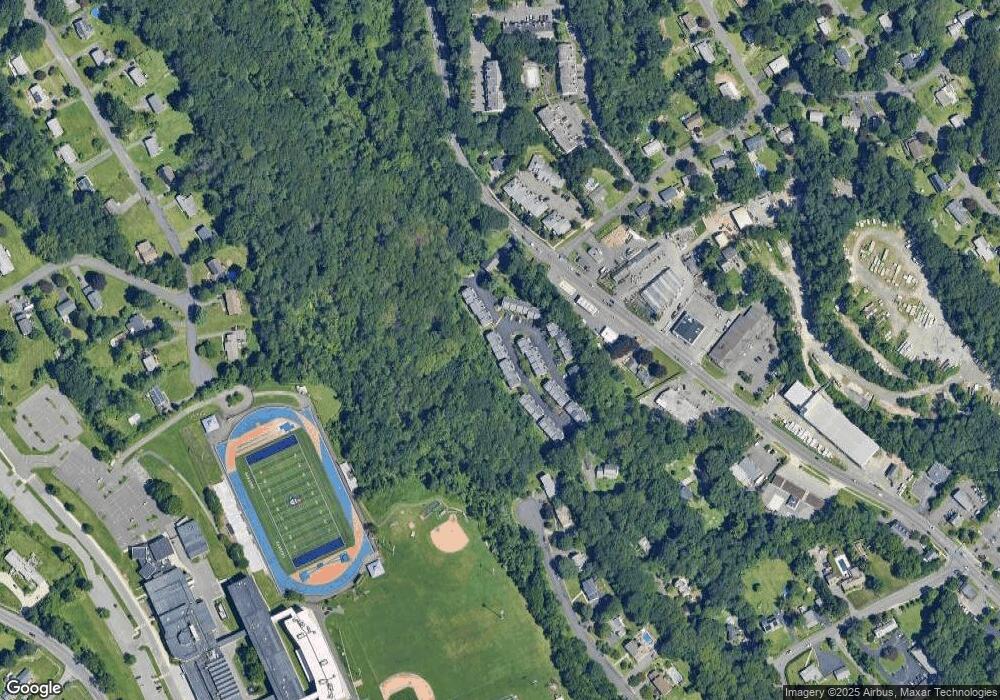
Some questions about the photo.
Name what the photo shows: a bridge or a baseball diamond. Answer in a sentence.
Visible in the photo is a baseball diamond.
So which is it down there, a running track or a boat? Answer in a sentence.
The one in the frame is a running track.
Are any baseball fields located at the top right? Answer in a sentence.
No, no baseball field is visible at the top right.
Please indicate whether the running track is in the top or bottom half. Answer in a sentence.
The running track sits in the bottom half of the picture.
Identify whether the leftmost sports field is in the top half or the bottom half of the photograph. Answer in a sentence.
Seen from above, the leftmost sports field lies in the bottom half of the view.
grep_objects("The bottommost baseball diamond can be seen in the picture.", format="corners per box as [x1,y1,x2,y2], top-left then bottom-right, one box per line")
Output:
[350,634,435,700]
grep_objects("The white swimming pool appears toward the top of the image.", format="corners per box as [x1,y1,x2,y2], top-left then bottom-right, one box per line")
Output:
[522,61,540,88]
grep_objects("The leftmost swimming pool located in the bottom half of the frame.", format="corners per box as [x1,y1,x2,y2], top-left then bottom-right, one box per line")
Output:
[640,627,658,648]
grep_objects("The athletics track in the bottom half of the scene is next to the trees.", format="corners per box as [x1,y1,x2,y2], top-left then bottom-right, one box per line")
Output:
[216,406,374,595]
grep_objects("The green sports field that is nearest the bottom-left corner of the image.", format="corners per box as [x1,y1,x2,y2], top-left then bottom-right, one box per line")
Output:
[236,428,355,575]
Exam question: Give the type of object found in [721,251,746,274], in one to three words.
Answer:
house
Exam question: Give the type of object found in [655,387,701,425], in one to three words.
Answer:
building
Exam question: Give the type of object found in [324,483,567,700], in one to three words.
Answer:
sports field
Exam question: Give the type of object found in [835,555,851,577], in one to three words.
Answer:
swimming pool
